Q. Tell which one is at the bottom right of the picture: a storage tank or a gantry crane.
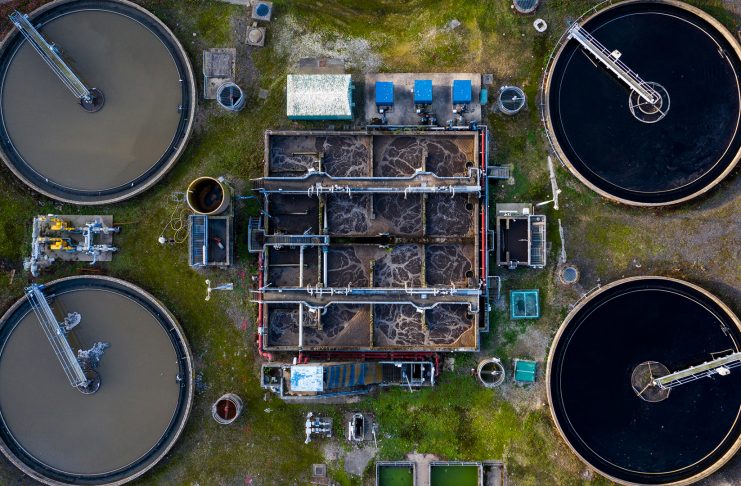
storage tank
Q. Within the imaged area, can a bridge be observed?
Yes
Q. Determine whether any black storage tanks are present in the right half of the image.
Yes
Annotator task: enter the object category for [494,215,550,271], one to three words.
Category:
storage tank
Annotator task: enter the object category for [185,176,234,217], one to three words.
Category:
storage tank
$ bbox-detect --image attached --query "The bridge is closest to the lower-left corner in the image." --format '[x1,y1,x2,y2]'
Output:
[22,283,87,391]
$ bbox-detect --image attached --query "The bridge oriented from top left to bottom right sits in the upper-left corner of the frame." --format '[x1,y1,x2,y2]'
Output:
[3,6,92,99]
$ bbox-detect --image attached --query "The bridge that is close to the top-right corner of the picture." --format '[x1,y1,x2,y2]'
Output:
[565,22,662,107]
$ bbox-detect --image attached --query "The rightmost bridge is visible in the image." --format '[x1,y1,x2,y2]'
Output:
[651,348,741,390]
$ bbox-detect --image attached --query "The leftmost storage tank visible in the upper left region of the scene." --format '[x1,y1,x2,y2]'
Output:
[0,0,200,205]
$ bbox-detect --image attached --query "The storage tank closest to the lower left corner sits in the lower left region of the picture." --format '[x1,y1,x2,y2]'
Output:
[0,275,198,486]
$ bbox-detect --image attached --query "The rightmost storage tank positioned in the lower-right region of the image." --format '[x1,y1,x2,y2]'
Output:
[544,275,741,486]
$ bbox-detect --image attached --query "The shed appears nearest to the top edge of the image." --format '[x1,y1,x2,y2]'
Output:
[287,74,356,121]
